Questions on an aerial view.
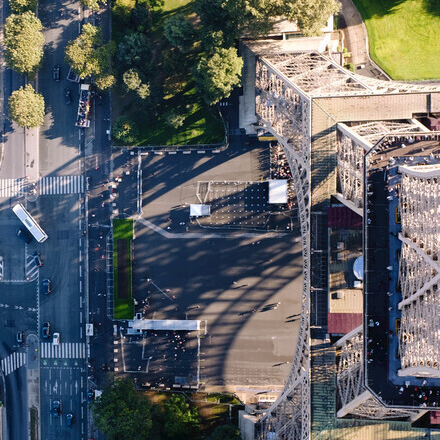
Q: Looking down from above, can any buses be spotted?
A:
Yes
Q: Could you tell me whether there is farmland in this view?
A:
No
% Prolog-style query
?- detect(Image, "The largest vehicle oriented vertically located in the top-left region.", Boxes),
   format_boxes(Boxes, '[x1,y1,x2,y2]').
[73,81,90,128]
